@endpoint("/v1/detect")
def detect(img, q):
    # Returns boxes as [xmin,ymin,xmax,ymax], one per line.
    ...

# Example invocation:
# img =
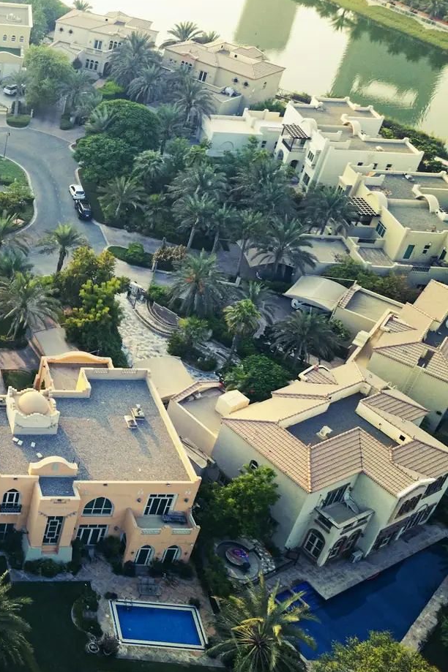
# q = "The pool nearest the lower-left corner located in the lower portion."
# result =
[103,590,217,655]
